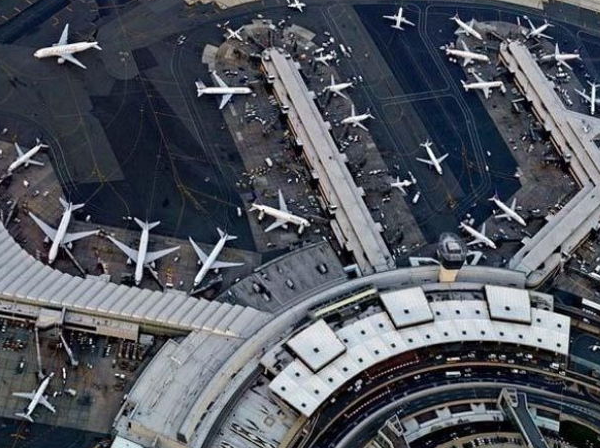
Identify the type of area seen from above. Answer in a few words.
airport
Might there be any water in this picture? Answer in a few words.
No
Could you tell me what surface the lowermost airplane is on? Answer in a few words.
apron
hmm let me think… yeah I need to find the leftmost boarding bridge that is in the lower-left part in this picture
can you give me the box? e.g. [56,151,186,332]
[33,324,47,380]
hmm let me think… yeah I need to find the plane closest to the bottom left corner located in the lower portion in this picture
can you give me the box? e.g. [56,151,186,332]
[15,374,61,420]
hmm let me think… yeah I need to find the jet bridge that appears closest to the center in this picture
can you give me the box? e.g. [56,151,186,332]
[309,214,331,228]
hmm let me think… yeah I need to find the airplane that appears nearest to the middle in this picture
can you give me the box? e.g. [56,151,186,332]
[248,189,310,234]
